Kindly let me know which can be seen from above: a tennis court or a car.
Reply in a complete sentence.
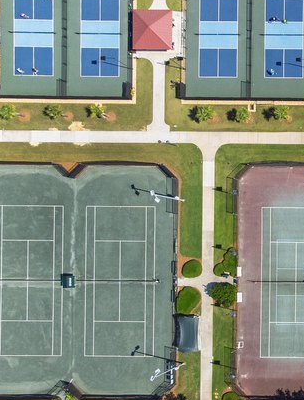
Visible in the photo is a tennis court.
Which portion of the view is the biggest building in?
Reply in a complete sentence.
You can find the biggest building in the top area of the picture.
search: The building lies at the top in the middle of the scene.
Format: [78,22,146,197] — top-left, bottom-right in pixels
[132,9,177,54]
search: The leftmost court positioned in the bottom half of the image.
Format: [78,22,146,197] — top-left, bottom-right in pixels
[0,165,79,395]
